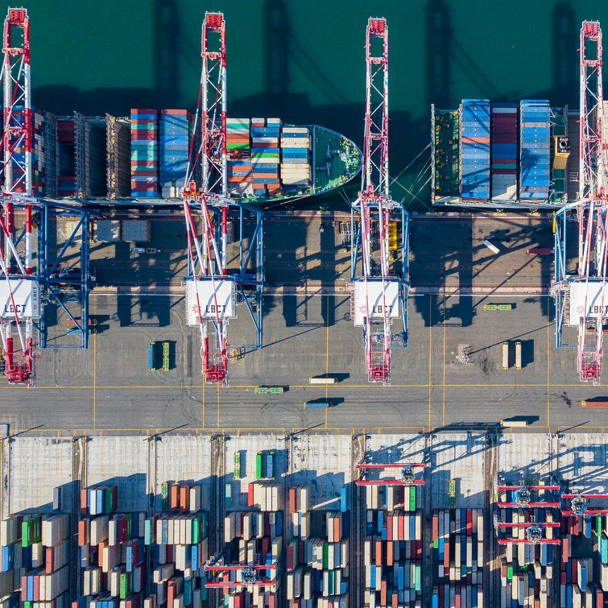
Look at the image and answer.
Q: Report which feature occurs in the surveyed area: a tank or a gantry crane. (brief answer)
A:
gantry crane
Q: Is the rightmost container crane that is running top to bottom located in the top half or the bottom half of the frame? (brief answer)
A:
top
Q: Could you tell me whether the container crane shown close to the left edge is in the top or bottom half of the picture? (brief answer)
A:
top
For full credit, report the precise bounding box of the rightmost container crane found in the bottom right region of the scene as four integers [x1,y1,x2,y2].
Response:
[553,478,608,516]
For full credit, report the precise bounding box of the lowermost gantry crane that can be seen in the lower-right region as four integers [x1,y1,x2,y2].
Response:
[492,505,557,546]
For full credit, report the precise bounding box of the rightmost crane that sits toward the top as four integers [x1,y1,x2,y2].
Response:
[545,13,608,390]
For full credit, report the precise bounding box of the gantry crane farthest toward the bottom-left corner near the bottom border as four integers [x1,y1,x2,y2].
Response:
[206,546,286,589]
